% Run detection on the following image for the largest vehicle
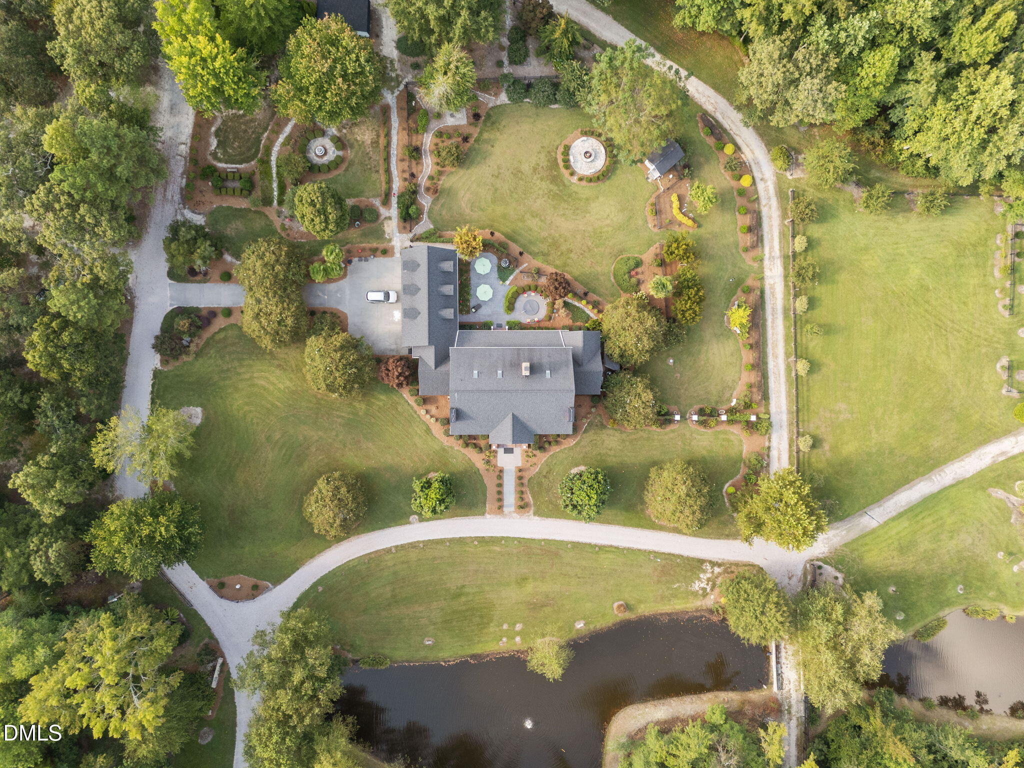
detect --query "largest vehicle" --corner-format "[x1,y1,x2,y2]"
[366,289,398,304]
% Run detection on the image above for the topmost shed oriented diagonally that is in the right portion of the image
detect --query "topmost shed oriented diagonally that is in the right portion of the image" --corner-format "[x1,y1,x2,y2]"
[635,139,684,188]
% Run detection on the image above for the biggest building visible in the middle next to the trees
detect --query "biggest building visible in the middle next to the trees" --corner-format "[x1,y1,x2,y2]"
[400,245,602,447]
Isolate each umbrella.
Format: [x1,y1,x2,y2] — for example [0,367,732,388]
[475,258,491,275]
[477,284,493,301]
